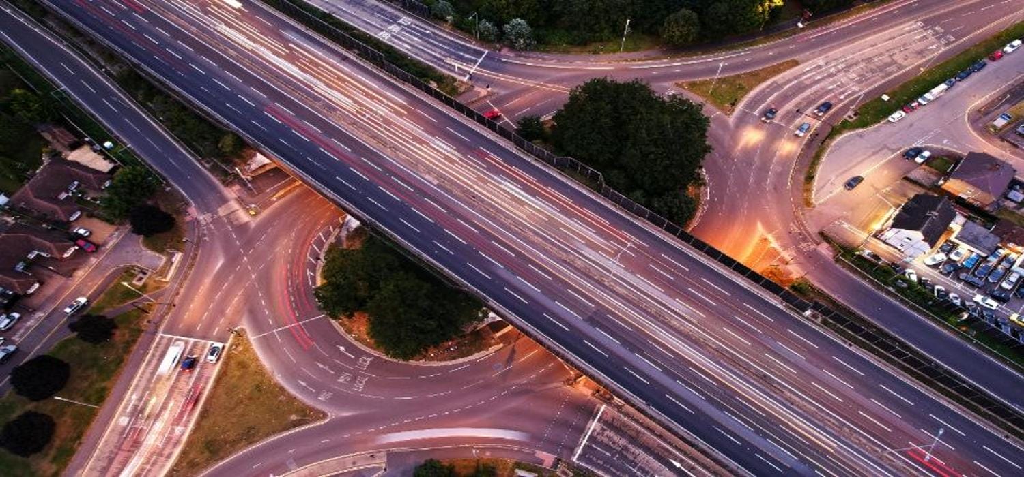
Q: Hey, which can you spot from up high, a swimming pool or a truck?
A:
truck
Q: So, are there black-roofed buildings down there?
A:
Yes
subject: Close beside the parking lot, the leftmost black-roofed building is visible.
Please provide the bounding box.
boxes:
[882,193,957,249]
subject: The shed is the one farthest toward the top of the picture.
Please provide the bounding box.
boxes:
[38,125,85,157]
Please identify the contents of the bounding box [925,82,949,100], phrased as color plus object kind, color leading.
white vehicle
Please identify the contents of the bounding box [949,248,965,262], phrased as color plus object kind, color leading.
white car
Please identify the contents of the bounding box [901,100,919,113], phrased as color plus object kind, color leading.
red vehicle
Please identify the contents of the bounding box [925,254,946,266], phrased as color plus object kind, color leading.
white vehicle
